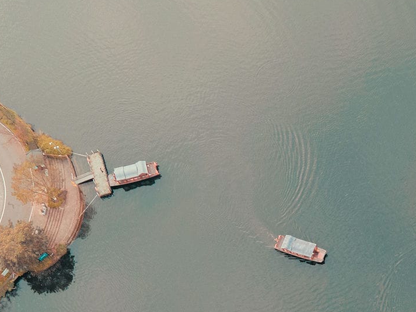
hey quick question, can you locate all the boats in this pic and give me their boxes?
[107,158,159,184]
[273,232,327,261]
